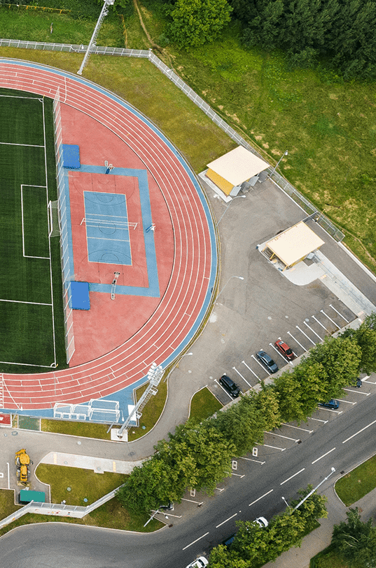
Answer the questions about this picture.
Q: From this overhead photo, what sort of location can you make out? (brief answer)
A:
sports ground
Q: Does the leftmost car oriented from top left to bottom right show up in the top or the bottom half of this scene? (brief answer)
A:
bottom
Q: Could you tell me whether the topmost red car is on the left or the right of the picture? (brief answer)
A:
right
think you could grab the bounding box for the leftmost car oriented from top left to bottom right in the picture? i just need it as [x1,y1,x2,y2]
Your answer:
[219,373,242,397]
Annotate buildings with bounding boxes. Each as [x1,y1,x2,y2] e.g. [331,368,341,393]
[263,221,325,273]
[205,146,269,191]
